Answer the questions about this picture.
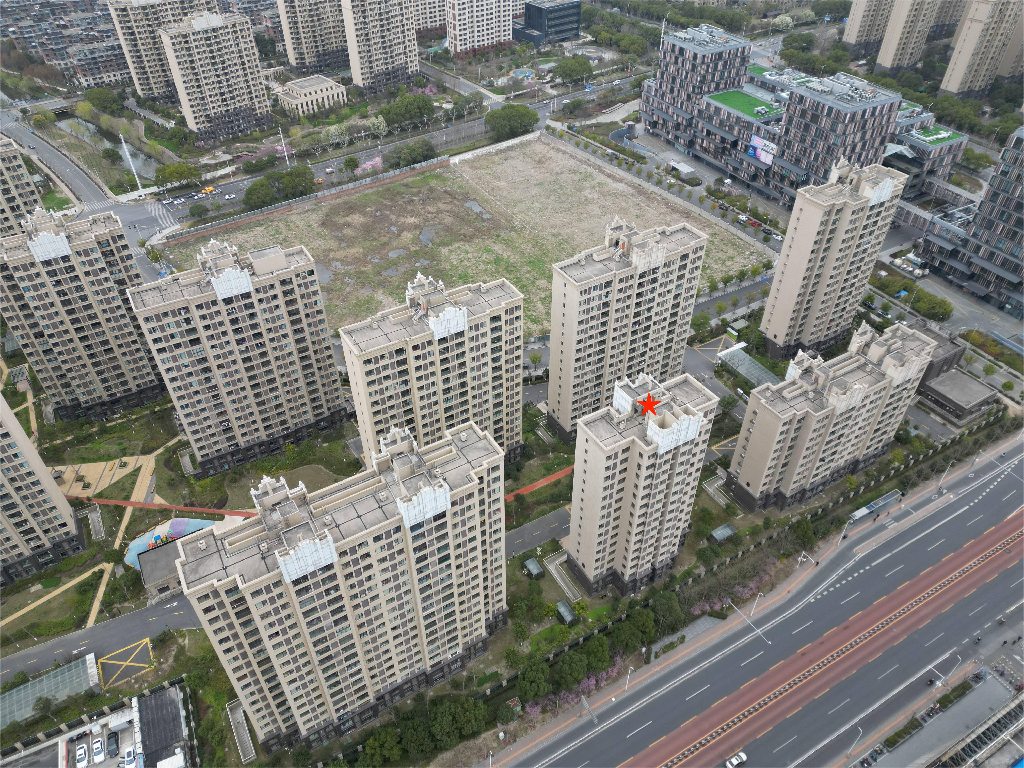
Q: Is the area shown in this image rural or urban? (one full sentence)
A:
The land in this view is best described as urban.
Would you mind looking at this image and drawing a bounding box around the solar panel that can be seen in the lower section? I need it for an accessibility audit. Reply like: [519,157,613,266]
[868,487,902,509]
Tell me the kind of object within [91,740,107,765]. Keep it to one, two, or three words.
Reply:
car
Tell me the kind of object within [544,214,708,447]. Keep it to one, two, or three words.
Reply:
building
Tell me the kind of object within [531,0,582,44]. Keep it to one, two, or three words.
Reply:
building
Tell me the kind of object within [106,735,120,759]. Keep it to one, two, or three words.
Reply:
car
